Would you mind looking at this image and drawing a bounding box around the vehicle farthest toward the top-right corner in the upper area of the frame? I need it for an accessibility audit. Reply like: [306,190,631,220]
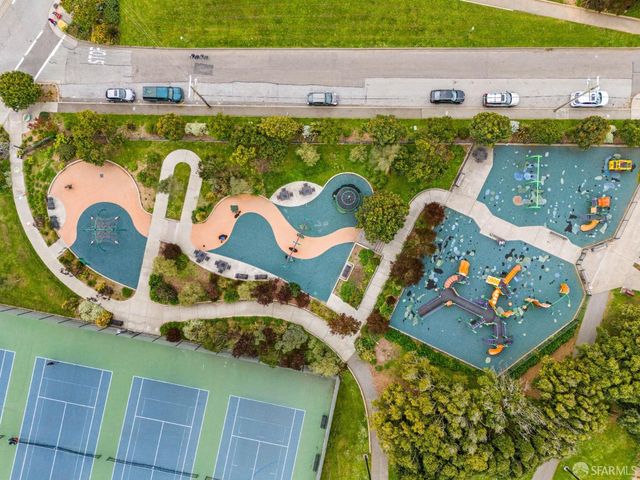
[572,89,611,107]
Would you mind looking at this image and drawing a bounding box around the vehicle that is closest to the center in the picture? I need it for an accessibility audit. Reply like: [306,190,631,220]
[306,89,339,106]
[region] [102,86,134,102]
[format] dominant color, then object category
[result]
white car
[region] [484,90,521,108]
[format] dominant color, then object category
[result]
white car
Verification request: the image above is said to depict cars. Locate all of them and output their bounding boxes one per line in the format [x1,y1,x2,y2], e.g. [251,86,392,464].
[572,89,611,107]
[431,88,466,104]
[102,86,134,102]
[484,90,521,108]
[306,89,339,106]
